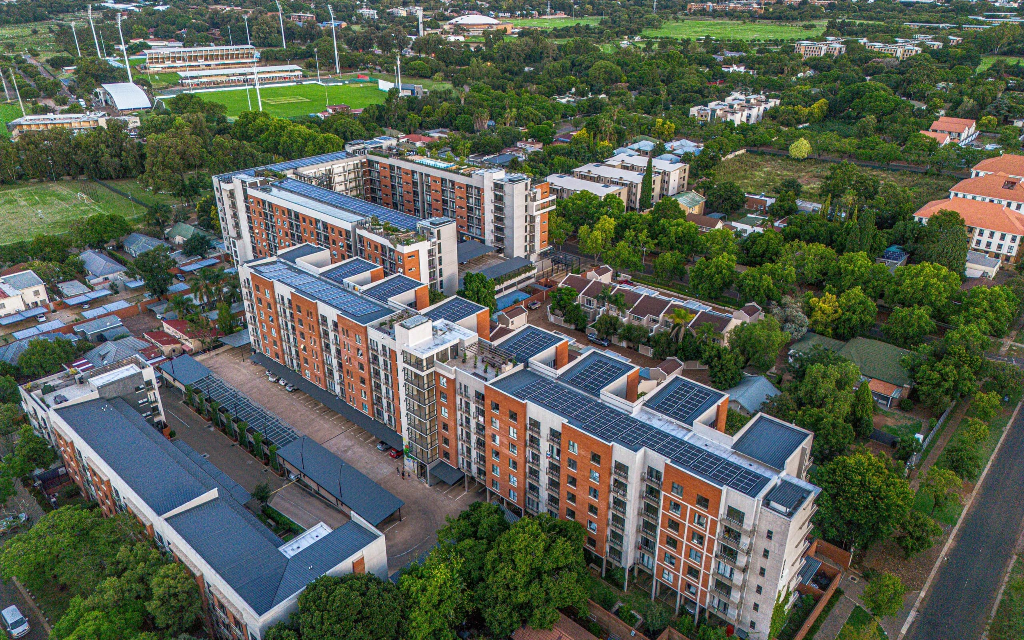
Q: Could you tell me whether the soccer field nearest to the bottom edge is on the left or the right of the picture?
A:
left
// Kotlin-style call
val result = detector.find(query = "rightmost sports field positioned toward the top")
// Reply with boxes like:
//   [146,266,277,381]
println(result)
[133,61,181,89]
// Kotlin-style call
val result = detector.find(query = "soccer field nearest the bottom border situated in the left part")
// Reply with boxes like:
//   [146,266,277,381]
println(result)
[0,173,144,245]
